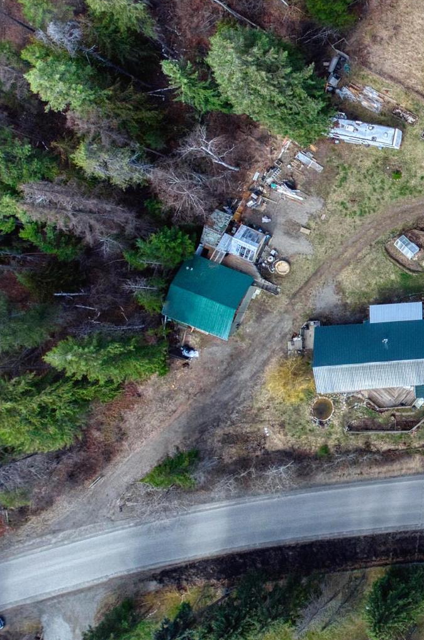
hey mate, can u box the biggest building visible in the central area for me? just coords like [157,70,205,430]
[161,255,259,339]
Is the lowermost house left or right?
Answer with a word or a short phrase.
right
